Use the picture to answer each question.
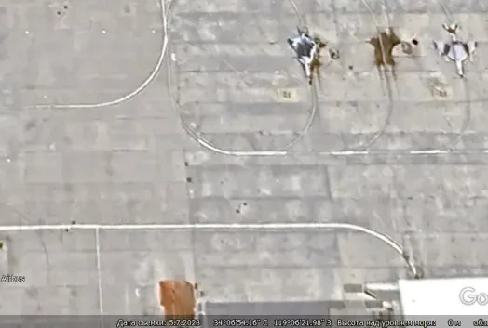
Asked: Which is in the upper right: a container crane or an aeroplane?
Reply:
aeroplane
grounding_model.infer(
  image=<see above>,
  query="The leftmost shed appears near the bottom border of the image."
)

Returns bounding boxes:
[157,283,197,328]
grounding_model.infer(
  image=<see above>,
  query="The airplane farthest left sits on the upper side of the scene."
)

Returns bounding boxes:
[283,26,328,80]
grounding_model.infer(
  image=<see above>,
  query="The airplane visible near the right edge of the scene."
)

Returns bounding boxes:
[432,21,479,77]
